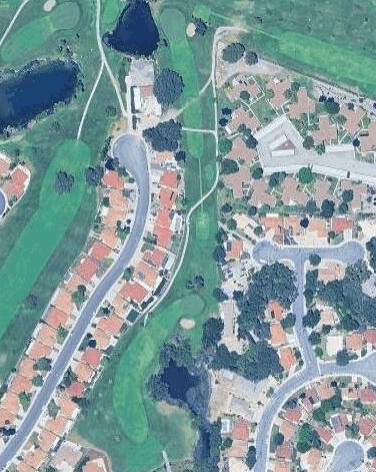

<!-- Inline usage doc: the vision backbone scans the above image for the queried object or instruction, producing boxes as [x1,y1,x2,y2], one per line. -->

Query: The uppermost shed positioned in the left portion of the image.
[129,63,151,83]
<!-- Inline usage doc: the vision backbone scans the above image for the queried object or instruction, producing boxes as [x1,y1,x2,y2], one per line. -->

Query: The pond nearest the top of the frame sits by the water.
[104,0,159,57]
